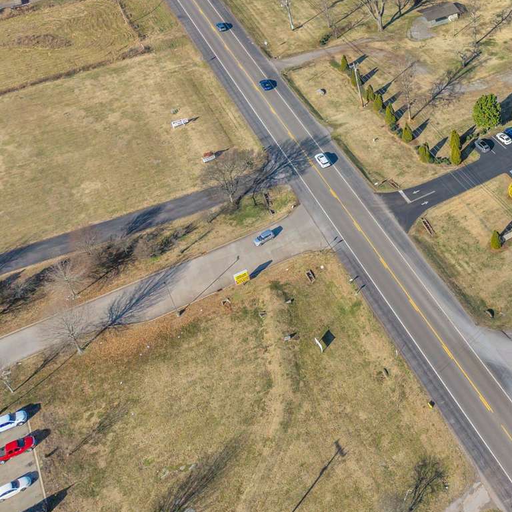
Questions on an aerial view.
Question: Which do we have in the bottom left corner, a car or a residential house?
car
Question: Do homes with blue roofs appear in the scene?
No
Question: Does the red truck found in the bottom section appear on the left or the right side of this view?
left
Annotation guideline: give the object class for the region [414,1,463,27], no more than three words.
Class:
house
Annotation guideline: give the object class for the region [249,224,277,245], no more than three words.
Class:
car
